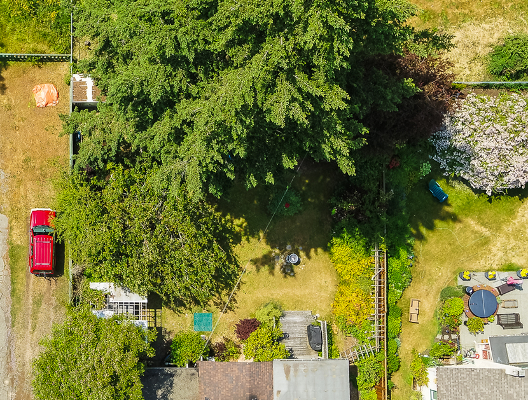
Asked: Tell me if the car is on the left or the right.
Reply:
left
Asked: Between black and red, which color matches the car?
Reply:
red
